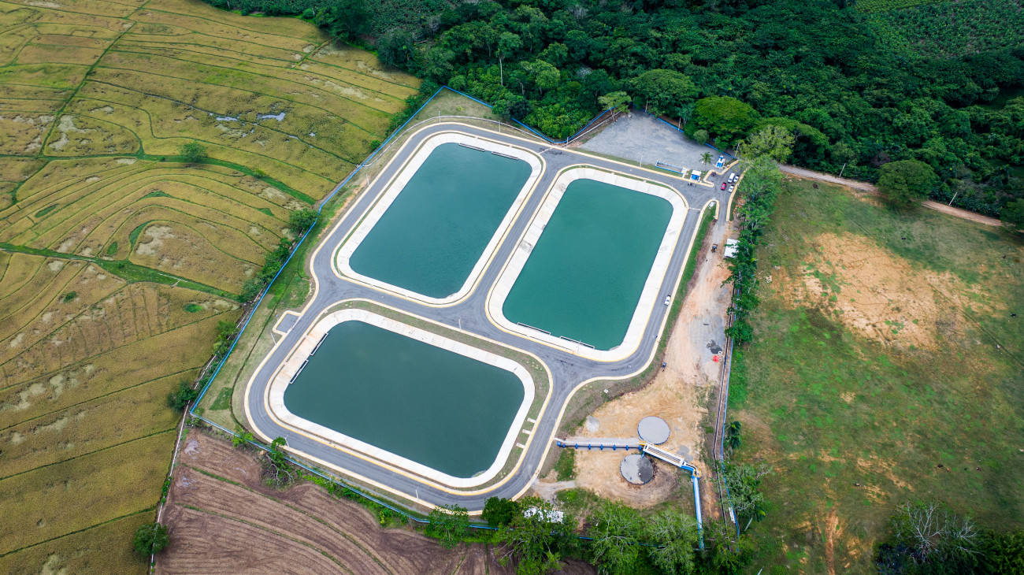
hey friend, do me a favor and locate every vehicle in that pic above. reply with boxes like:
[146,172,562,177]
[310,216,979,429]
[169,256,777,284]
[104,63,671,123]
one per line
[720,182,727,191]
[728,184,735,193]
[710,245,717,254]
[733,174,741,183]
[727,173,734,182]
[664,294,672,306]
